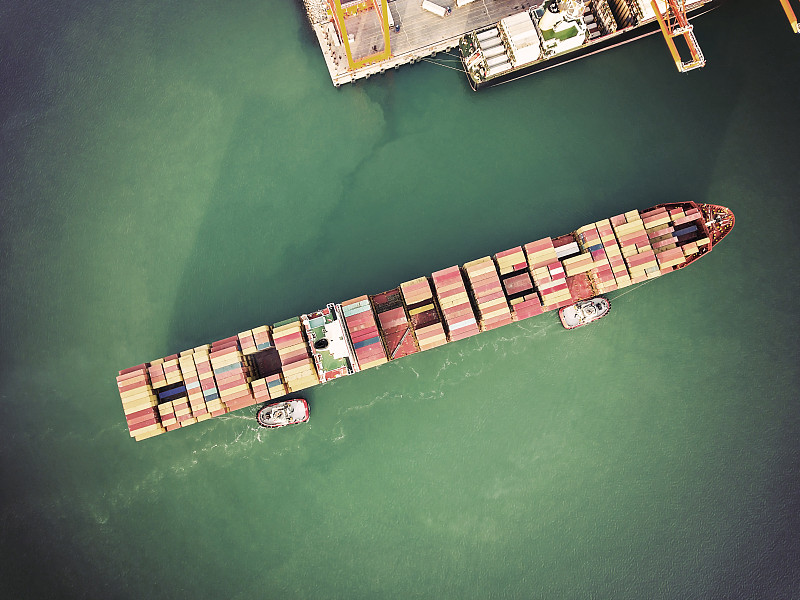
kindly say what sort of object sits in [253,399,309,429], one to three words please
boat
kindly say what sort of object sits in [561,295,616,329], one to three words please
boat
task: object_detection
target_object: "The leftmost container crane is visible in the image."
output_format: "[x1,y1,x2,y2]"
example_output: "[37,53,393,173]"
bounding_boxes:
[323,0,396,73]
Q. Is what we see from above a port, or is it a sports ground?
port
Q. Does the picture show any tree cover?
No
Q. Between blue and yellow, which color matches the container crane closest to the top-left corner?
yellow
